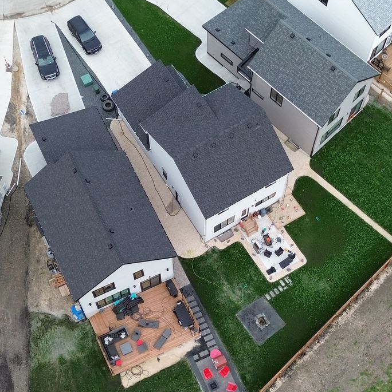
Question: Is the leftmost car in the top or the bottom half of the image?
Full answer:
The top half of the photo is where the leftmost car is.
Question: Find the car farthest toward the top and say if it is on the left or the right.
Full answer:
The car farthest toward the top appears in the left half of the scene.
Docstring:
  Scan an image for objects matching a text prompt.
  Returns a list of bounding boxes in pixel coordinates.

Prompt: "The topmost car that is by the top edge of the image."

[67,13,101,54]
